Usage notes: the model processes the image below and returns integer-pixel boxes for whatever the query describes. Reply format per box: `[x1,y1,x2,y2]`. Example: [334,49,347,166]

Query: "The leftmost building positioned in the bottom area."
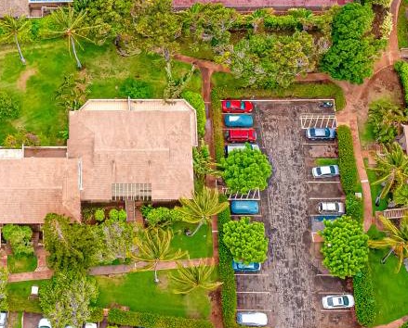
[0,146,82,250]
